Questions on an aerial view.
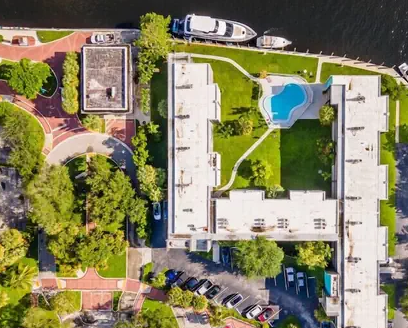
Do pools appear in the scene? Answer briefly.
Yes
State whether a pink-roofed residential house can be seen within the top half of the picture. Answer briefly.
No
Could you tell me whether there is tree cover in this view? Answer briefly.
Yes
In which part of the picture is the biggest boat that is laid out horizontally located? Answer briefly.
top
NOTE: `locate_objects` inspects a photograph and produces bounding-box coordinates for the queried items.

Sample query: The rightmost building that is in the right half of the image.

[321,75,387,328]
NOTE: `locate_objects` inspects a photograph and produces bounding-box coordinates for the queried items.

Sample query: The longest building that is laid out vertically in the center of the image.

[167,53,219,251]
